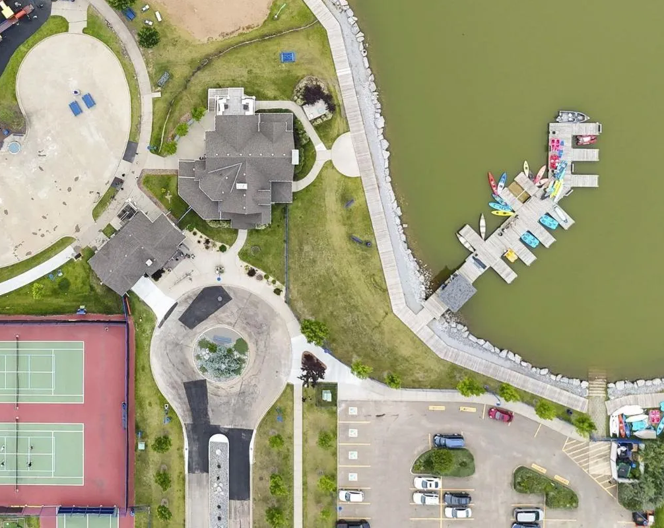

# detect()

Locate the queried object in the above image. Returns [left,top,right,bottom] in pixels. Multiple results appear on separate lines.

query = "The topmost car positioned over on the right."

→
[486,406,514,423]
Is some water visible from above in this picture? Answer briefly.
Yes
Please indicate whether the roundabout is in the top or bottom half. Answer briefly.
bottom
